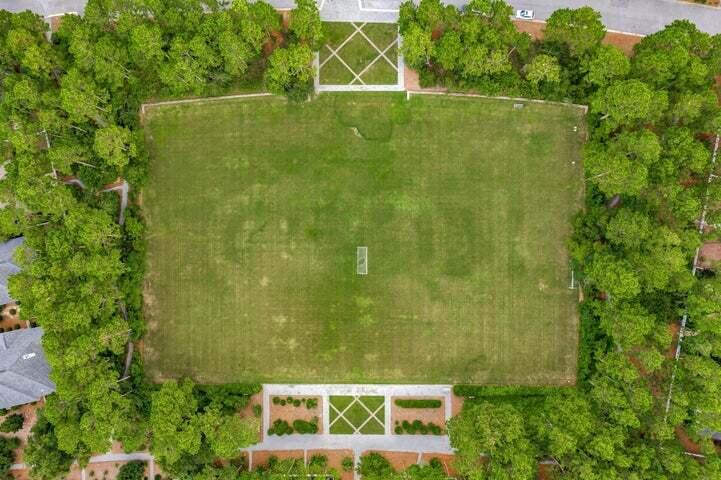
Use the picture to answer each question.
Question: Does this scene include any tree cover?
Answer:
Yes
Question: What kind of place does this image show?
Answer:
sports ground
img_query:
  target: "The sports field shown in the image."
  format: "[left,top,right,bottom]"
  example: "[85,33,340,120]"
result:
[142,91,588,384]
